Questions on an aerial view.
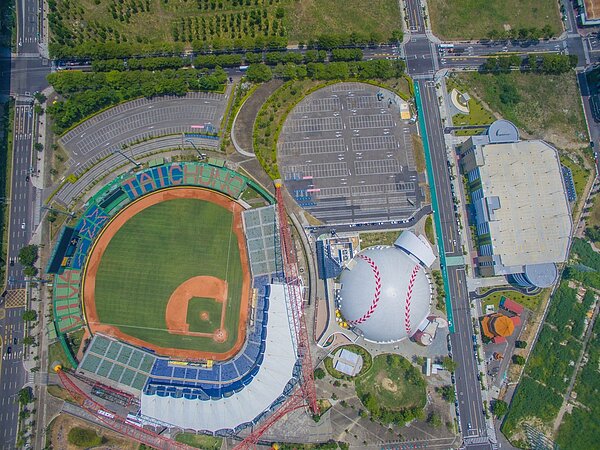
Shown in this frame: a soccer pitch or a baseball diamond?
baseball diamond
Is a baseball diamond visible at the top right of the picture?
No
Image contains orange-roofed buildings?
Yes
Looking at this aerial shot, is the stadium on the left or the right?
left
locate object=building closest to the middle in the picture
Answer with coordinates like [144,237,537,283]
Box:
[316,238,359,278]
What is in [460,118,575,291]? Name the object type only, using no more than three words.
building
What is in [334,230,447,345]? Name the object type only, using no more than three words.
building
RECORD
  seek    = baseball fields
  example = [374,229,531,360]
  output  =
[73,187,254,361]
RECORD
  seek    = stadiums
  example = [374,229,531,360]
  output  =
[49,161,321,450]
